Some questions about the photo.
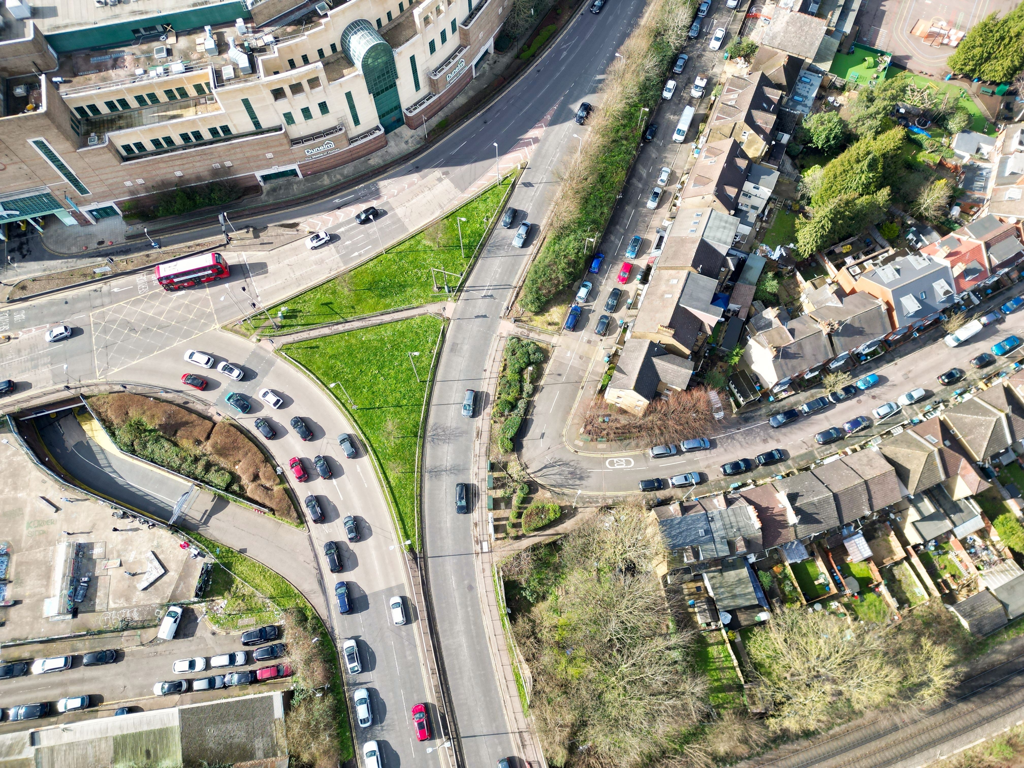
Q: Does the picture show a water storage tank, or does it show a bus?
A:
bus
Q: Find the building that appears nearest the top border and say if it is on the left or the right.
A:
right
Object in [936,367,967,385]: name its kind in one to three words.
car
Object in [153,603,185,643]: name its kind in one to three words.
van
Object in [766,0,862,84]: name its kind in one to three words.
building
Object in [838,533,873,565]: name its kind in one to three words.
shed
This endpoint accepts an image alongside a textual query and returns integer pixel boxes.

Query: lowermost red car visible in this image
[412,704,433,742]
